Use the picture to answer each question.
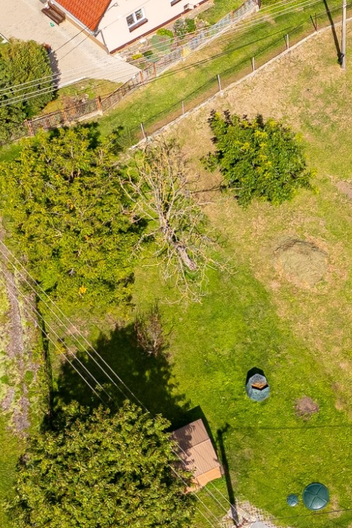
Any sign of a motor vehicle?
No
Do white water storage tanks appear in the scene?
No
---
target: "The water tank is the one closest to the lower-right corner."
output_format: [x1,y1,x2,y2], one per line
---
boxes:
[302,481,328,512]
